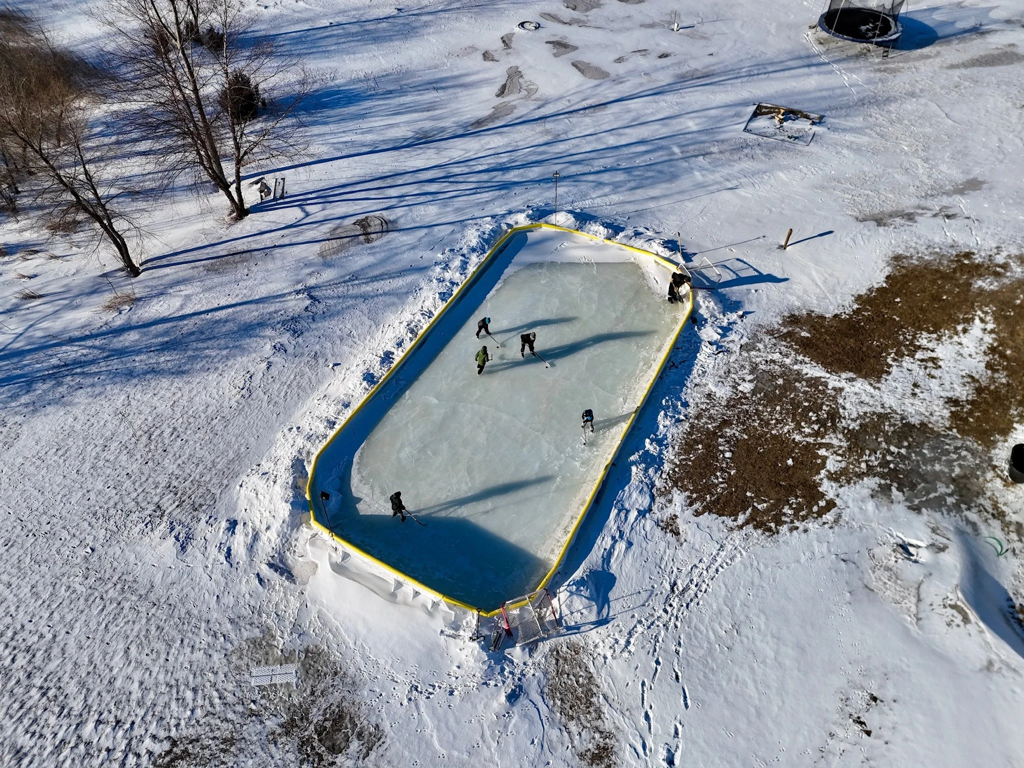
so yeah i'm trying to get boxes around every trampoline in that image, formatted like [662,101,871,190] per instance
[814,0,910,58]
